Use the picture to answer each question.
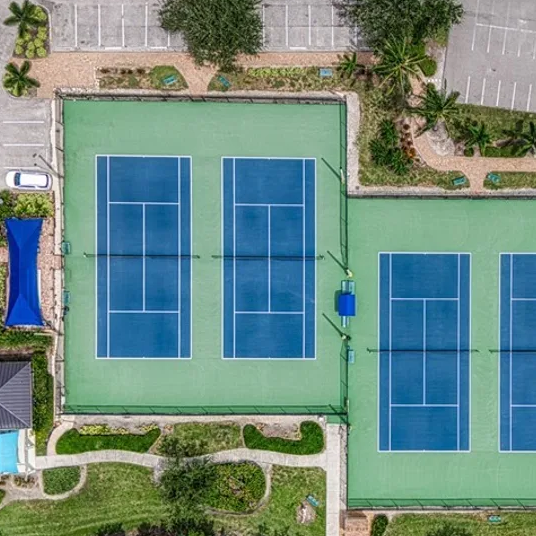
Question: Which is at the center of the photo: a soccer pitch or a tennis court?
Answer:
tennis court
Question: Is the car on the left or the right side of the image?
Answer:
left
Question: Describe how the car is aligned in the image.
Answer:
from side to side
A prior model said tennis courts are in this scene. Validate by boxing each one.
[347,198,484,508]
[63,100,207,414]
[207,101,347,414]
[484,198,536,508]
